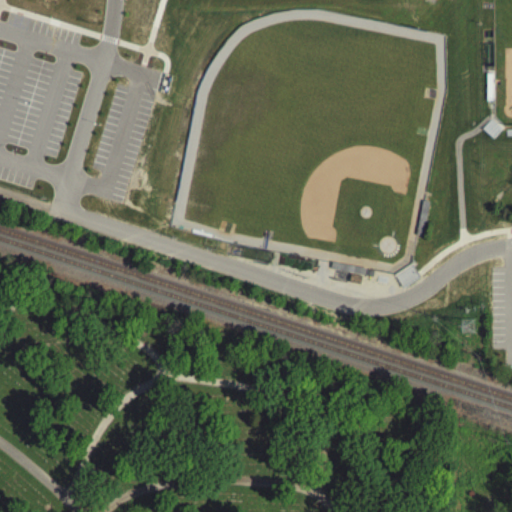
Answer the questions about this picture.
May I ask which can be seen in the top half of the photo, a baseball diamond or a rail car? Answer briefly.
baseball diamond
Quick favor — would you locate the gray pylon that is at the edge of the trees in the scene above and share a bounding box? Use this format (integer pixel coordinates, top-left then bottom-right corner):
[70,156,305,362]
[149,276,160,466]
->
[460,318,477,334]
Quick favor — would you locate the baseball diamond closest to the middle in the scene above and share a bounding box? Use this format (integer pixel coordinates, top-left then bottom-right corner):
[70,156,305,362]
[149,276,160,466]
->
[172,10,446,274]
